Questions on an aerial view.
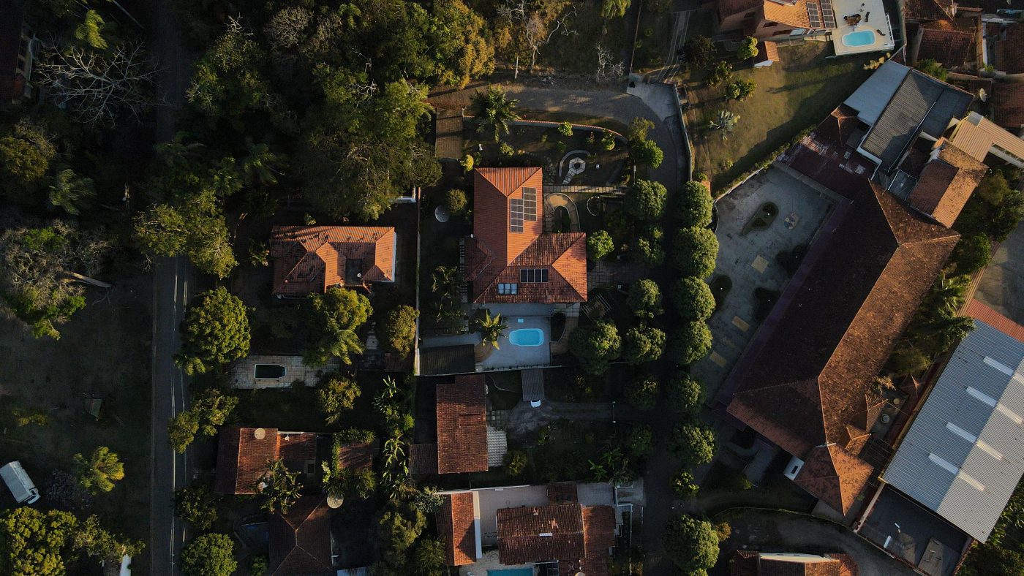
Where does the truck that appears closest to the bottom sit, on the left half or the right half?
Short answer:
left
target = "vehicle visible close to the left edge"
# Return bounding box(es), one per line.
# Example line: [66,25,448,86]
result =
[0,459,42,505]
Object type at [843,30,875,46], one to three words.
swimming pool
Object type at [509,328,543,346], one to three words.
swimming pool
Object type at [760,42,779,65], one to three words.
shed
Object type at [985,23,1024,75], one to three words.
house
